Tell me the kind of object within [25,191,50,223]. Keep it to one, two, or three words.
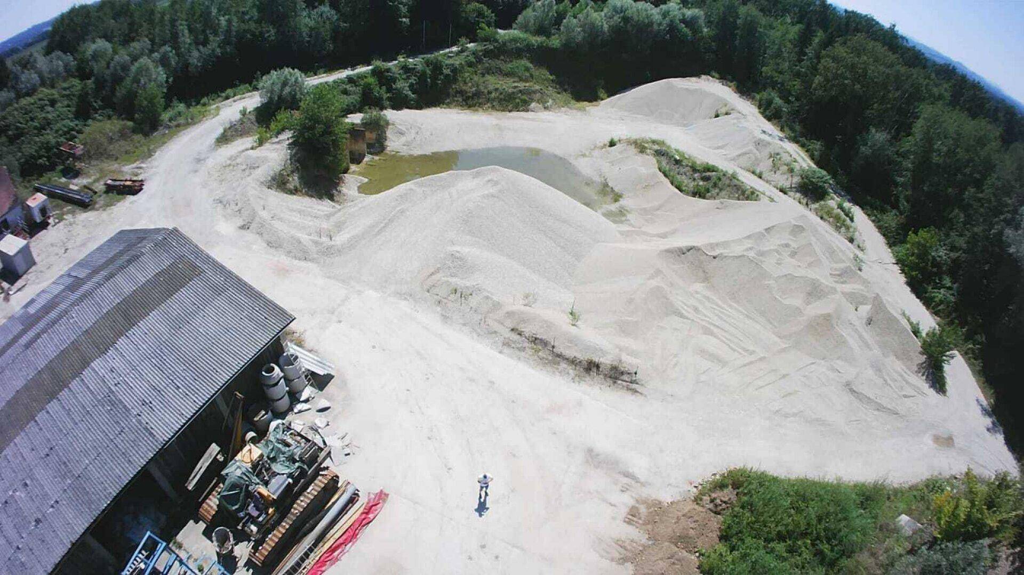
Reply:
building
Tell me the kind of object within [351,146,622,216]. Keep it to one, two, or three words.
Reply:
pond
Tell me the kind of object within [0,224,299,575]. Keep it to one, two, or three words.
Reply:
shed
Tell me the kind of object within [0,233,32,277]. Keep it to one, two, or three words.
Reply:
building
